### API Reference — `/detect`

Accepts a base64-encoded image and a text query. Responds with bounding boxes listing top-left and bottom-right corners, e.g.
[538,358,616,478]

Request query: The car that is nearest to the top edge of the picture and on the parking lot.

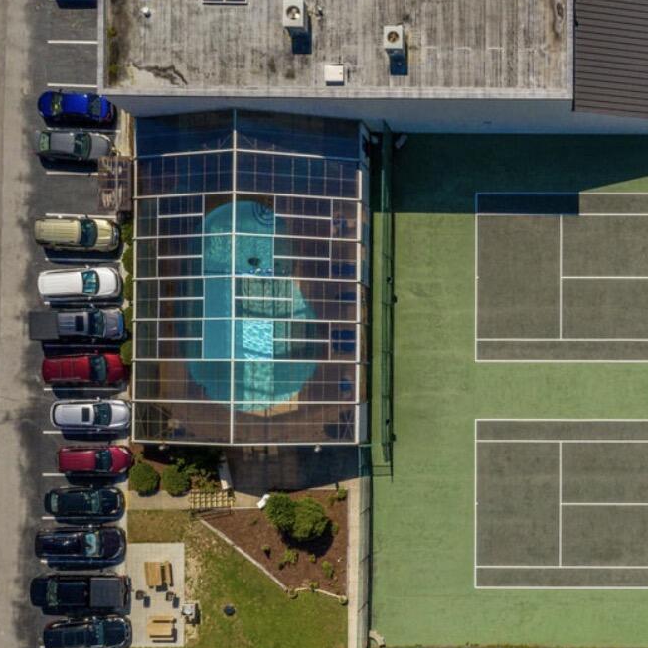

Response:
[39,89,120,124]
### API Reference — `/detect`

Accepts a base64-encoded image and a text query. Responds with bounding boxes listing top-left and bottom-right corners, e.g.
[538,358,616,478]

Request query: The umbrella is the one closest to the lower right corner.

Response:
[341,378,358,390]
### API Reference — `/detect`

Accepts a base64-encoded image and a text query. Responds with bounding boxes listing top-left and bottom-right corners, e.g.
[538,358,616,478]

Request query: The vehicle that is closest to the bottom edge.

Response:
[47,614,135,647]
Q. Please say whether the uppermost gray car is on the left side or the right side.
left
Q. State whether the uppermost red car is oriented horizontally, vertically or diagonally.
horizontally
